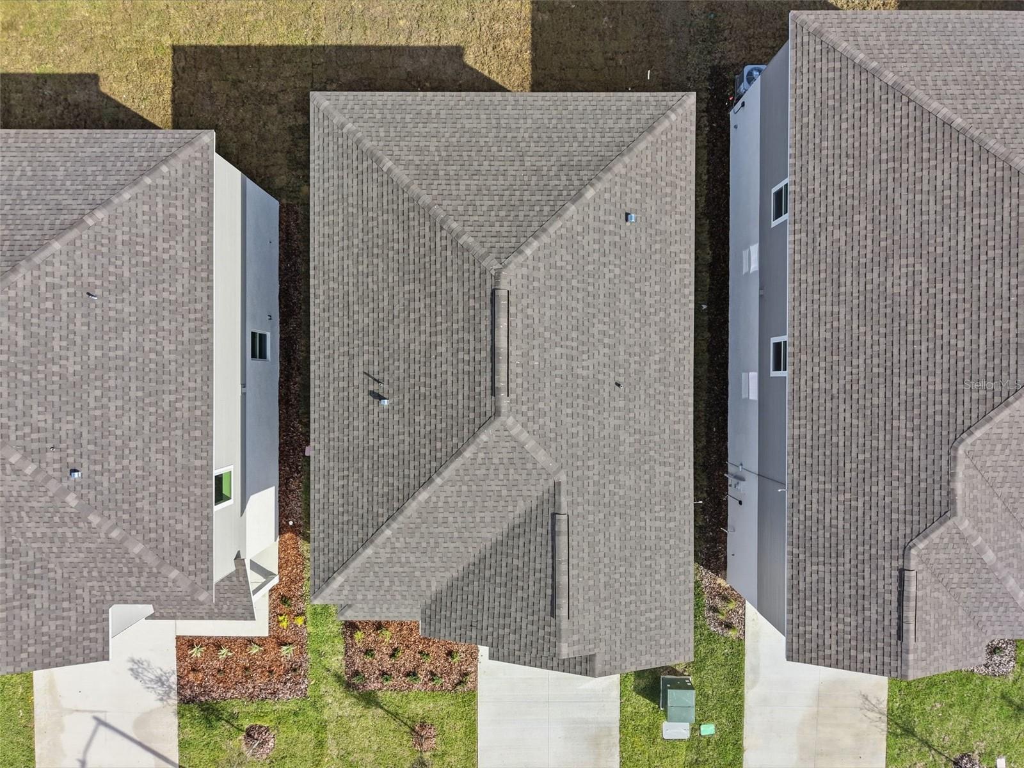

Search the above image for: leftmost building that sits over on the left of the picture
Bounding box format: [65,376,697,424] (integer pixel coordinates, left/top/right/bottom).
[0,128,279,674]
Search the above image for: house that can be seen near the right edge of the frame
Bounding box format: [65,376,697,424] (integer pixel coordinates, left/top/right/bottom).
[724,8,1024,678]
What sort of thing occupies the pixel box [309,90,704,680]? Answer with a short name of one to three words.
house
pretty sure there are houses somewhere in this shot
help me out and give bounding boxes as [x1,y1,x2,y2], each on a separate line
[724,8,1024,678]
[0,128,279,674]
[309,90,704,680]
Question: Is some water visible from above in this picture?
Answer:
No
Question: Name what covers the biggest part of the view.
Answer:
buildings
